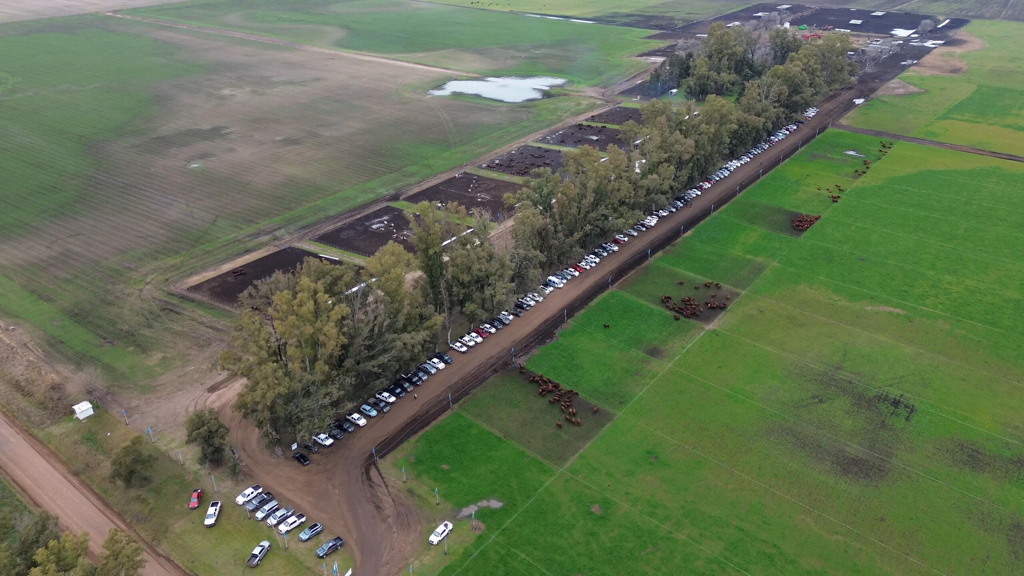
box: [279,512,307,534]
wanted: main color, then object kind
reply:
white truck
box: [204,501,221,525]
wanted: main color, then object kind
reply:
white vehicle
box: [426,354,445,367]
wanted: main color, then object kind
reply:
white vehicle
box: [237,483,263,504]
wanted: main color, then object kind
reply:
white truck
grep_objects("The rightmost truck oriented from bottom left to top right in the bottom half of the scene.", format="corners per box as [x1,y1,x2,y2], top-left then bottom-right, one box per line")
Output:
[431,520,453,545]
